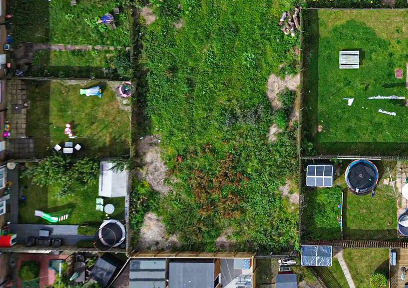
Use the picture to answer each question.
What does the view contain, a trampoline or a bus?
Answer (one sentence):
Of the two, only a trampoline appears.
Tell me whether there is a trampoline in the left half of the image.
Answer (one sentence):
Yes, there is a trampoline in the left half of the image.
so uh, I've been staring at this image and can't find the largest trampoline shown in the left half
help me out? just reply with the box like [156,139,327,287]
[91,218,128,254]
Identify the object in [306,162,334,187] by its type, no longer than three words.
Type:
greenhouse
